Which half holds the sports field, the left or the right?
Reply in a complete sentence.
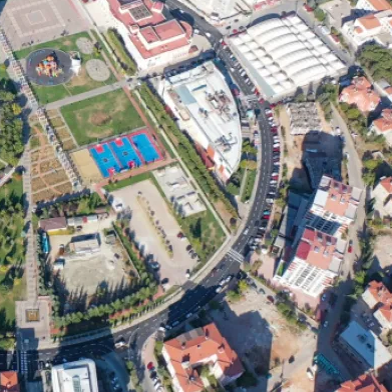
The sports field sits on the left side.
